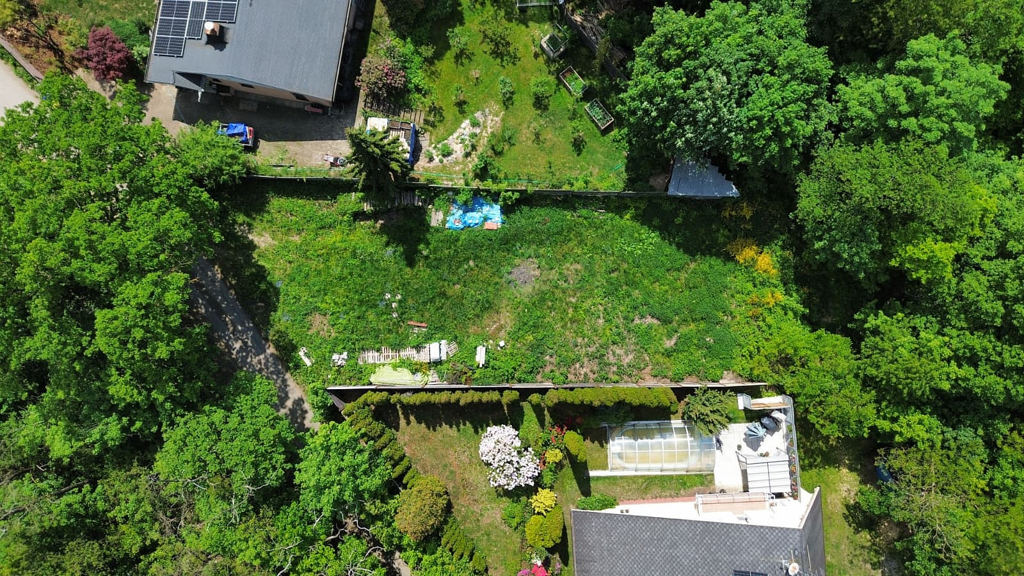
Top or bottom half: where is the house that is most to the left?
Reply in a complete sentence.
You can find the house that is most to the left in the top half.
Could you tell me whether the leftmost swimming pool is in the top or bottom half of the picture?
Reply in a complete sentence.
It is in the bottom half that the leftmost swimming pool appears.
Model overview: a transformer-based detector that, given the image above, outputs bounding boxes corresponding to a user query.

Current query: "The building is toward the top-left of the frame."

[144,0,356,110]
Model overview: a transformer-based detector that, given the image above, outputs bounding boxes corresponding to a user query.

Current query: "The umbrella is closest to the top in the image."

[744,417,769,440]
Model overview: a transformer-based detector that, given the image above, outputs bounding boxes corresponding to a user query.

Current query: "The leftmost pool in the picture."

[611,424,709,473]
